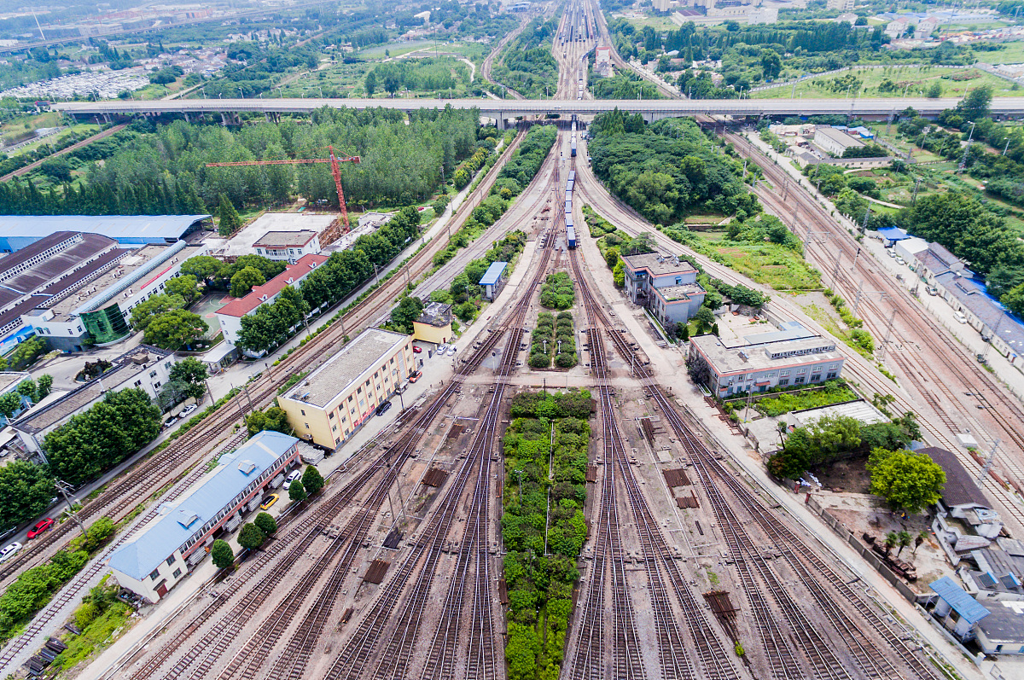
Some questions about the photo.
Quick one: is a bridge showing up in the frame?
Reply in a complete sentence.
Yes, this view includes a bridge.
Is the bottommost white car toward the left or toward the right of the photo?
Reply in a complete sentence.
The bottommost white car sits on the left side.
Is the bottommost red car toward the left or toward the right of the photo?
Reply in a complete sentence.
The bottommost red car sits on the left side.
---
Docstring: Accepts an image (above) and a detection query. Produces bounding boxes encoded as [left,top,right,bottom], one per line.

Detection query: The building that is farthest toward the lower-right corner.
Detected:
[970,597,1024,658]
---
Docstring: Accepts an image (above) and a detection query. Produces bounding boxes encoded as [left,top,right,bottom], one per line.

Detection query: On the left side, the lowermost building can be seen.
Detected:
[111,433,301,605]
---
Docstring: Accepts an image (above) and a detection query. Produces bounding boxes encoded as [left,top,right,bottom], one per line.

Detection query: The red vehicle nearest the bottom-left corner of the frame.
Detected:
[22,517,54,540]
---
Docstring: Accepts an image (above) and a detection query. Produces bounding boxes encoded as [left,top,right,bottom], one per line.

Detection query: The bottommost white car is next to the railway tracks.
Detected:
[0,538,24,561]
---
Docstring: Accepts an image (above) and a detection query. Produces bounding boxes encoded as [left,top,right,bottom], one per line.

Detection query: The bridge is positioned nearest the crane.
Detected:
[51,96,1024,126]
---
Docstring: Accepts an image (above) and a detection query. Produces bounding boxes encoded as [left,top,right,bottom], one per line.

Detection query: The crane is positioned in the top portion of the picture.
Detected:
[207,147,363,231]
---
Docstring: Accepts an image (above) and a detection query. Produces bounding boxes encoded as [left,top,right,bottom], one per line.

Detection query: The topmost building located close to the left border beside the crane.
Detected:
[0,207,197,253]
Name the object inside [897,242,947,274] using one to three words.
house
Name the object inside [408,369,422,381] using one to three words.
vehicle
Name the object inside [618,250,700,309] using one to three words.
building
